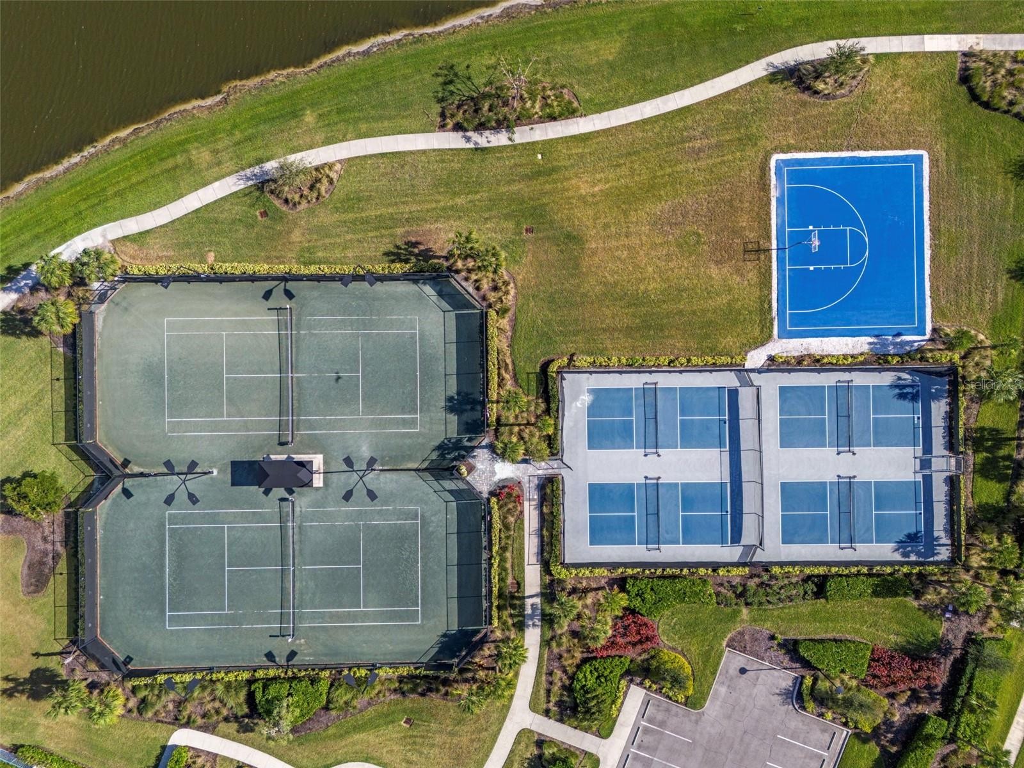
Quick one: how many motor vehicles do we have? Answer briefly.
0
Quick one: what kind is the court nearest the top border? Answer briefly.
basketball court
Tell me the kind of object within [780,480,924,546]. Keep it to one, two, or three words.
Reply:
sports court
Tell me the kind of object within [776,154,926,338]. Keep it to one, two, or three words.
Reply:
basketball court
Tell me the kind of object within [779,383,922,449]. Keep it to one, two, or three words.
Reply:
sports court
